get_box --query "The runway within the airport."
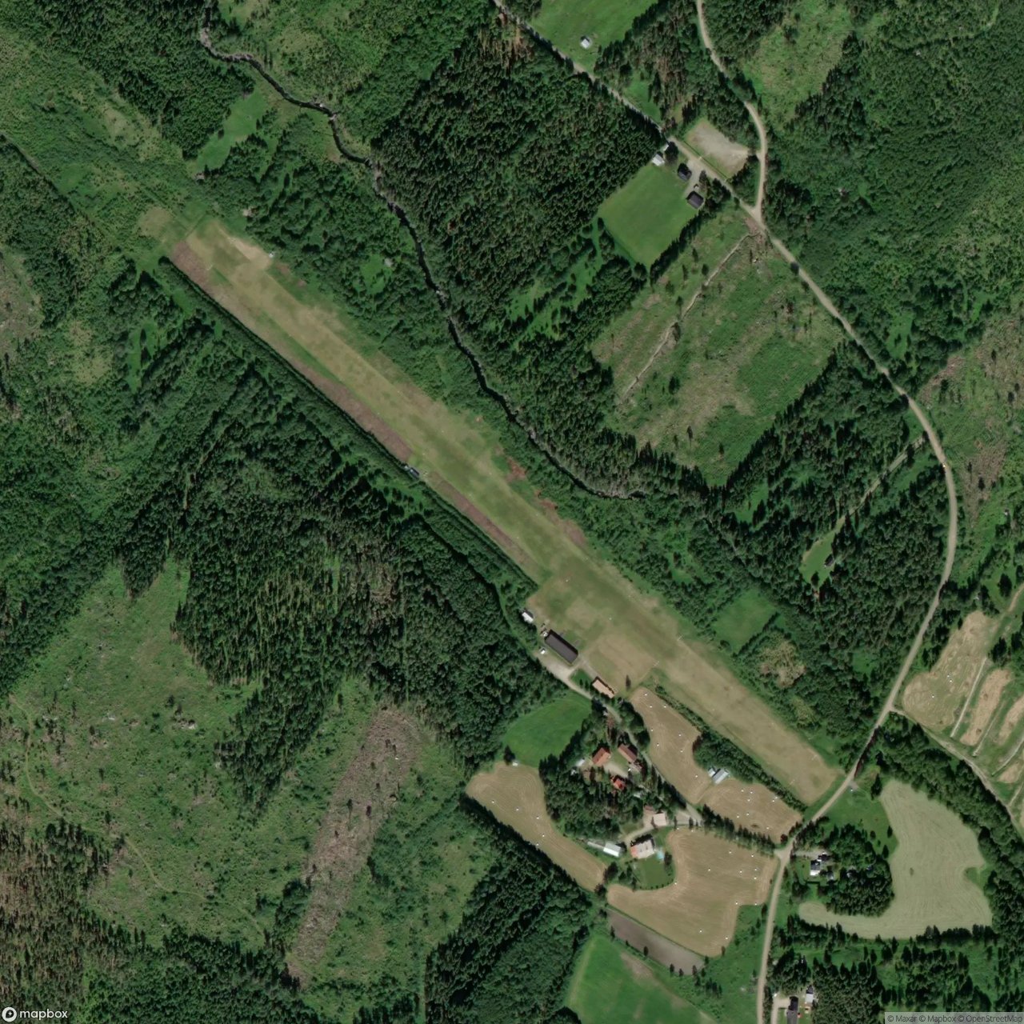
[192,227,824,788]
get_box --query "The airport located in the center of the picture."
[170,217,840,805]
